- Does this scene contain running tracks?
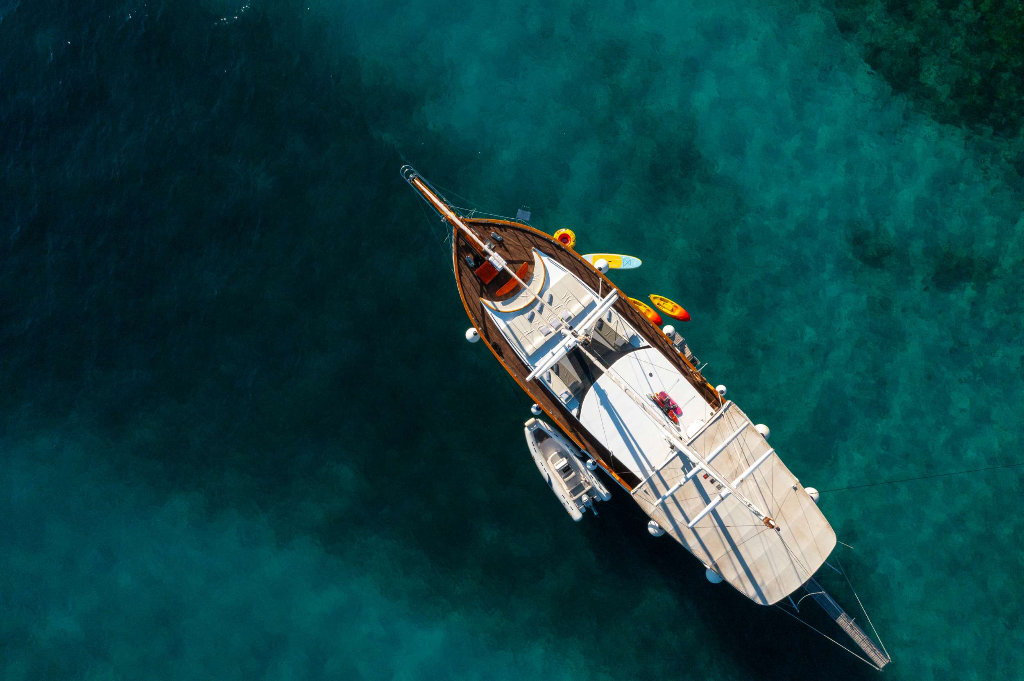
No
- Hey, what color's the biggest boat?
white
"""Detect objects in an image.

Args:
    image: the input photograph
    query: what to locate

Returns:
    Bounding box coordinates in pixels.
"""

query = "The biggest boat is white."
[401,162,1022,670]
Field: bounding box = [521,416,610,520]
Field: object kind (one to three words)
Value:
boat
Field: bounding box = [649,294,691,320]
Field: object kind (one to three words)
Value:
boat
